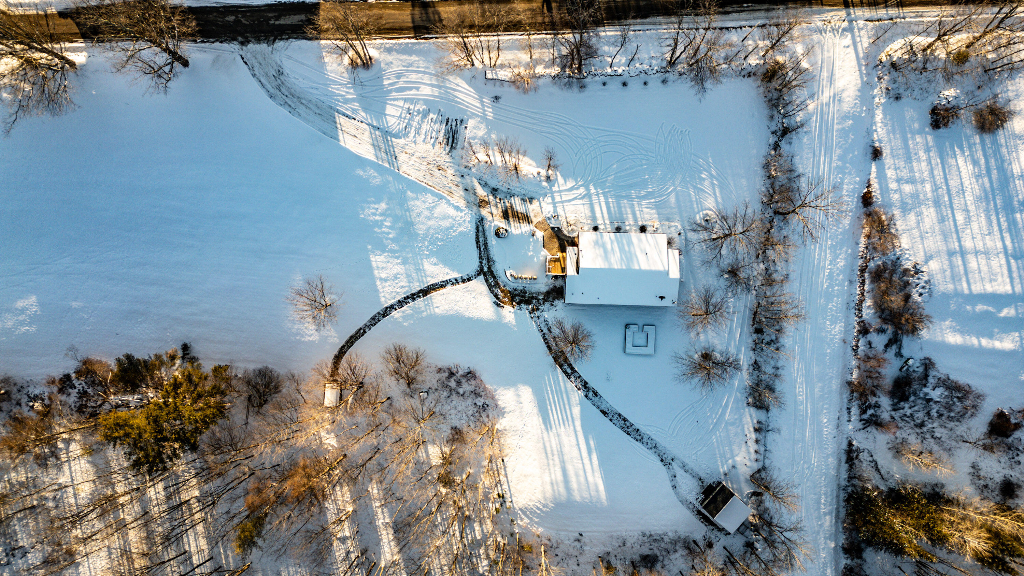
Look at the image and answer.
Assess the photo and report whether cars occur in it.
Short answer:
No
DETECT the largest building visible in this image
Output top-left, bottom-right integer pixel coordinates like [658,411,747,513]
[564,231,681,307]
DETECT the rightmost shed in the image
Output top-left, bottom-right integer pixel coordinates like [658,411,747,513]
[692,476,753,535]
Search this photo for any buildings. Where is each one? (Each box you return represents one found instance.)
[324,384,340,406]
[692,476,753,535]
[564,231,681,307]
